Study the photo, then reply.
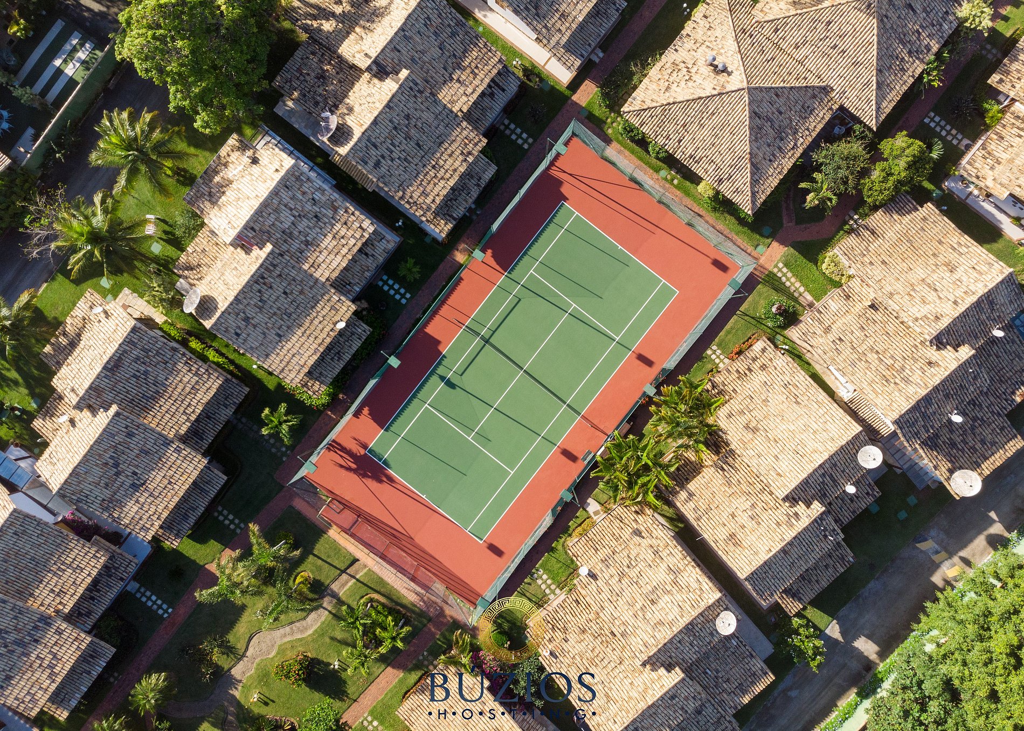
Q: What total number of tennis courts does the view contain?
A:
1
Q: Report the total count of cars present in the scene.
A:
none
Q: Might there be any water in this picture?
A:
No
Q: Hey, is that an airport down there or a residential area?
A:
residential area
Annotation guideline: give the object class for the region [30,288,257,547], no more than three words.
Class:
house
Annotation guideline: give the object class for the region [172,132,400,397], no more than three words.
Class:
house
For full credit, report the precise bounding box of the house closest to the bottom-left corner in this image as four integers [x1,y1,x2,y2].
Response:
[0,485,153,721]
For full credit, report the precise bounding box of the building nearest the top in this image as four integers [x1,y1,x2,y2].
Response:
[464,0,628,81]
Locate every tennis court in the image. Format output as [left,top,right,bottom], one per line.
[305,138,741,609]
